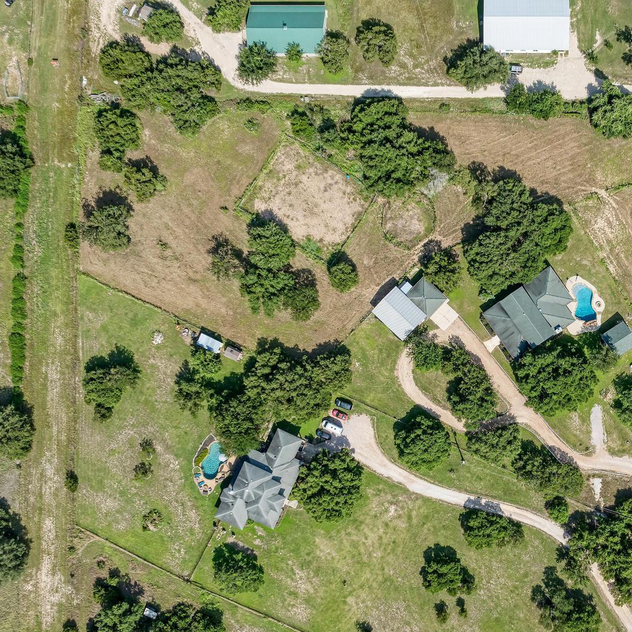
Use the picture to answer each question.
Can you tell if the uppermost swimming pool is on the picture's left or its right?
right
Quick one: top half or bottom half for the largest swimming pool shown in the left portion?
bottom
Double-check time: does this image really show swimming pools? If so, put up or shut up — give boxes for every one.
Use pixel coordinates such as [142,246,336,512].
[566,275,605,335]
[193,439,237,496]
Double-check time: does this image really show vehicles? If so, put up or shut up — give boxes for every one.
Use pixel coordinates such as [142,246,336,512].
[332,410,348,421]
[508,66,523,74]
[335,398,353,411]
[322,419,343,434]
[316,429,332,441]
